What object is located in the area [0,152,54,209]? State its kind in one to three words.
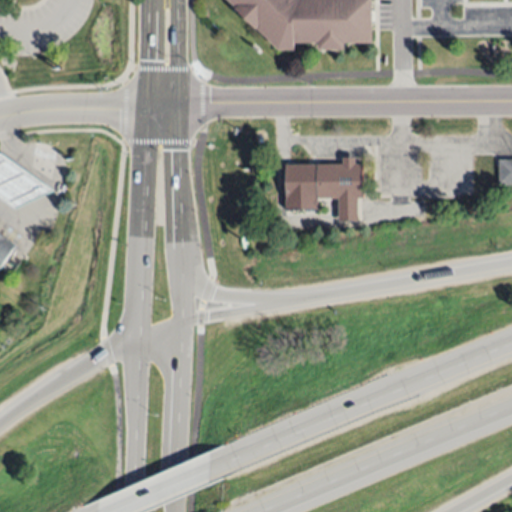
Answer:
building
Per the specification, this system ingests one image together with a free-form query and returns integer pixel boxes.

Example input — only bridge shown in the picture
[86,449,212,512]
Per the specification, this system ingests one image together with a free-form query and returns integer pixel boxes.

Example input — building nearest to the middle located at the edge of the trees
[285,158,362,221]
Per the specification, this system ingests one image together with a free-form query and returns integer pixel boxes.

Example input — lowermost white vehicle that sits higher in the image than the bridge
[89,350,108,364]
